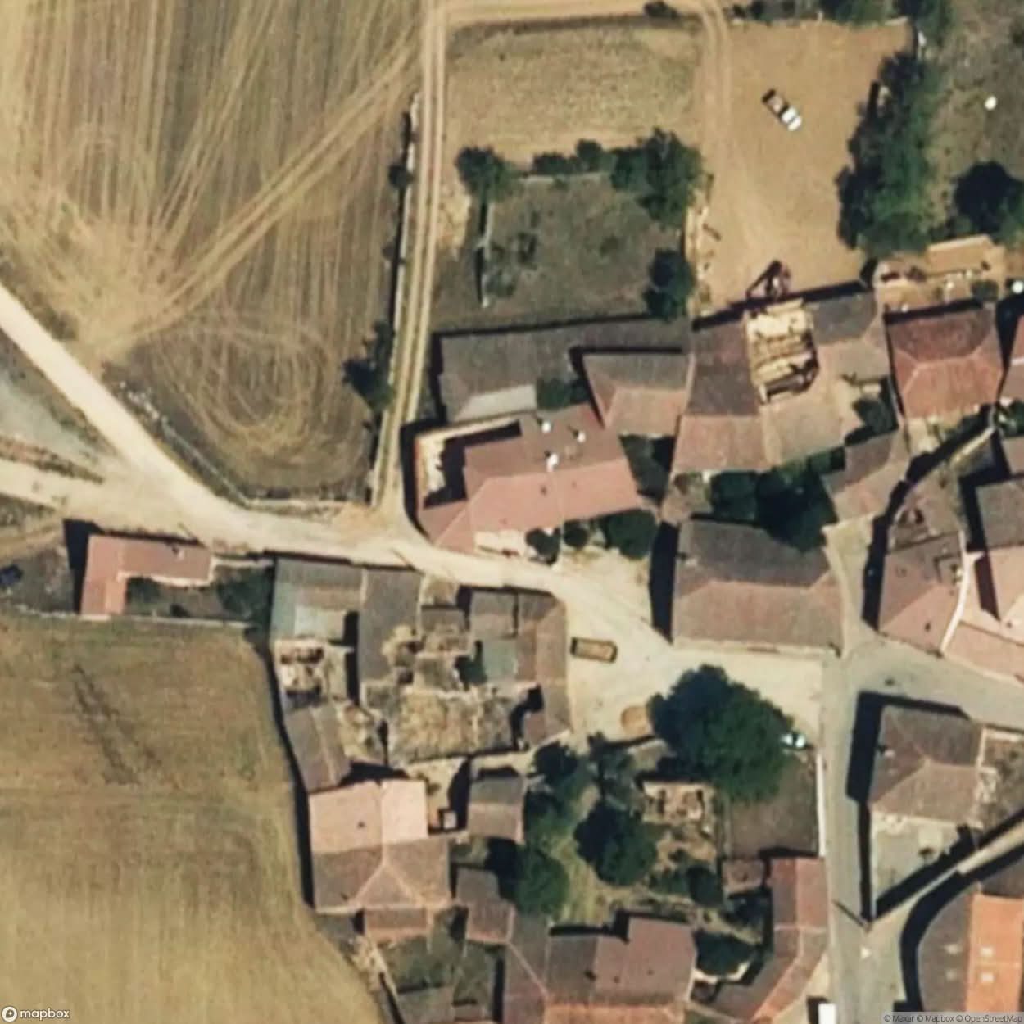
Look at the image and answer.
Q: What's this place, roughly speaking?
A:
residential area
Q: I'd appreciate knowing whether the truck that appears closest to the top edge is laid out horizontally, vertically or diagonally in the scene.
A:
diagonally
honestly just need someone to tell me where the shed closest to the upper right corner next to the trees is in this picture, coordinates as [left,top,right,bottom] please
[930,236,988,274]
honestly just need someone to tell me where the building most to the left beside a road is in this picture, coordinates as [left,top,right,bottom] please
[82,537,211,615]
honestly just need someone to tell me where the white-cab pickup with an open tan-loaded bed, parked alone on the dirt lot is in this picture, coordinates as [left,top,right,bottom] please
[764,92,801,130]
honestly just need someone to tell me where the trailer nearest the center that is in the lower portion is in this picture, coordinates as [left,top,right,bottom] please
[566,637,617,662]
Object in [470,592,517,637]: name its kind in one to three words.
shed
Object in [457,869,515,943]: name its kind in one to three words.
house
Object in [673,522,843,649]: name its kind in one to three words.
barn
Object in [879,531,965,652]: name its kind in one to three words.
house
